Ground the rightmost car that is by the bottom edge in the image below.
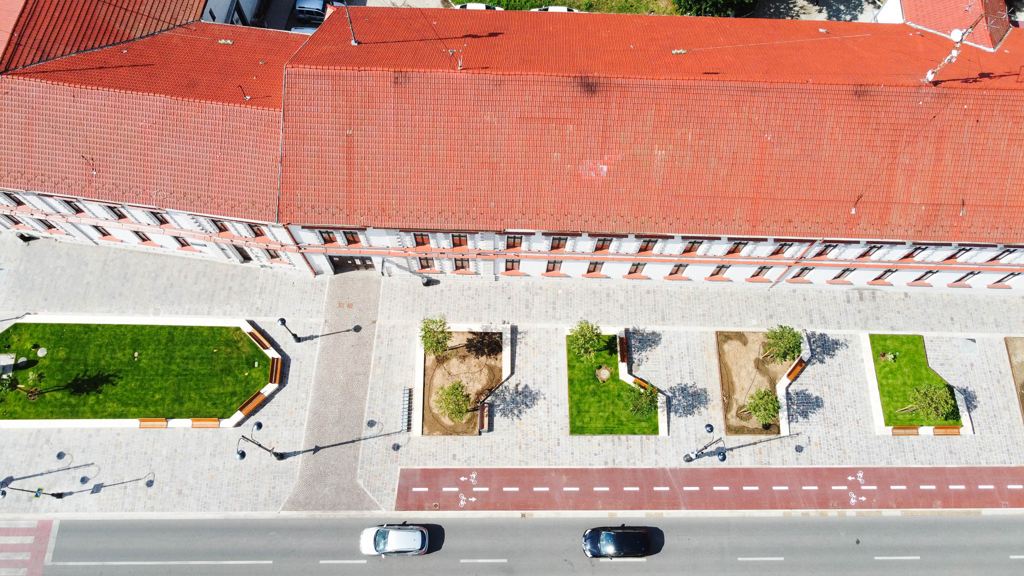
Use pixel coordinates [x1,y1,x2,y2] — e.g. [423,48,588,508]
[580,524,649,561]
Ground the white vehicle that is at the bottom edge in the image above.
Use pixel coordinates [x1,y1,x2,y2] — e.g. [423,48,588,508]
[359,522,428,560]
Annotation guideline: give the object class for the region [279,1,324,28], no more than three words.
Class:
car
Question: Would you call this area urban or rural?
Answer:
urban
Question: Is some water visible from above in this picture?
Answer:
No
